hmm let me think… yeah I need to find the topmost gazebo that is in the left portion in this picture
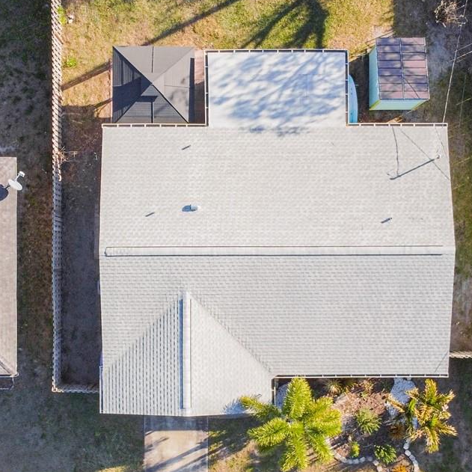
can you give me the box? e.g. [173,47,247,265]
[112,46,194,123]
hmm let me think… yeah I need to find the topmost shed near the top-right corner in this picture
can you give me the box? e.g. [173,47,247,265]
[367,36,431,111]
